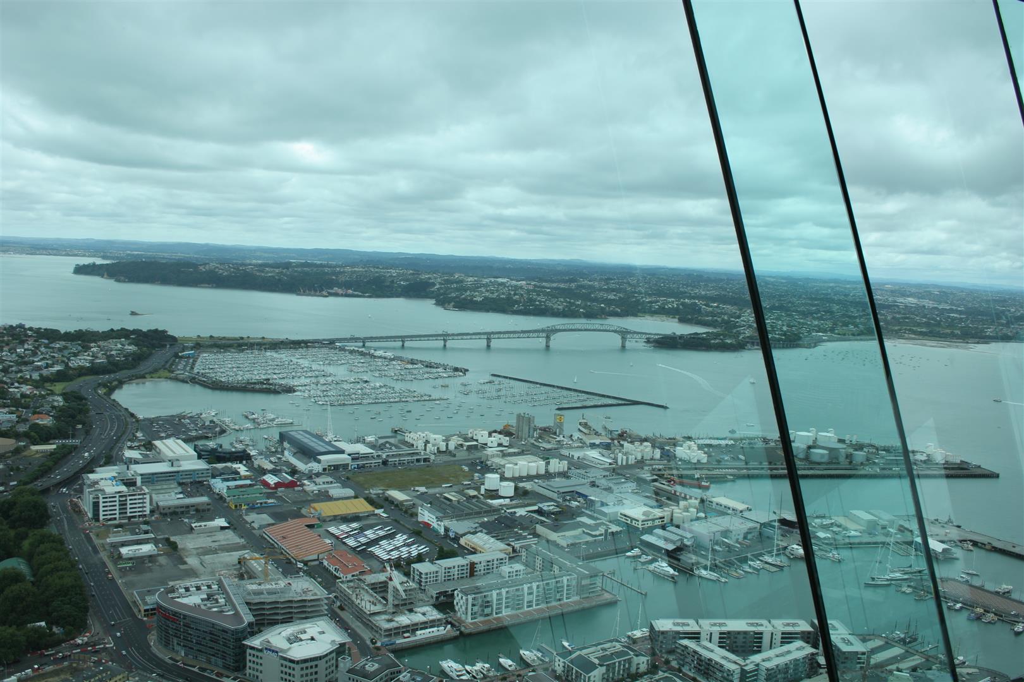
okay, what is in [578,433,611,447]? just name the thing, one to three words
shed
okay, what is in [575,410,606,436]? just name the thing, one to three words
ship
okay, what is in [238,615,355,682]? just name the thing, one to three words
building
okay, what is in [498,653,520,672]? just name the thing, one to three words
boat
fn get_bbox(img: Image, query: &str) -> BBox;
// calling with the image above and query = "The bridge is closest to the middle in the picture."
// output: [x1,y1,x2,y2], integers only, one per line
[296,322,730,348]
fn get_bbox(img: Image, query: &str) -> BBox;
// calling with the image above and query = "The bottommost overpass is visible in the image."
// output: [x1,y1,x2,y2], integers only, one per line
[6,429,124,513]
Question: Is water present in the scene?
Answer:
Yes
